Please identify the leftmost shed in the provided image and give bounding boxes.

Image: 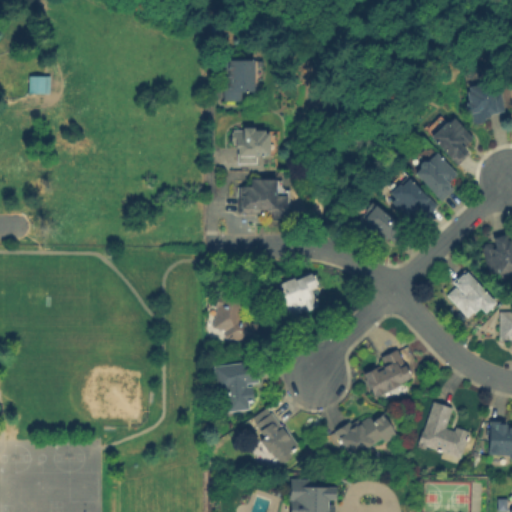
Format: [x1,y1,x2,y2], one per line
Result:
[30,73,50,95]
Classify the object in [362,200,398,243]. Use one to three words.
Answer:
house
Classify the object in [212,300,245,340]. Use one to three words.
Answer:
house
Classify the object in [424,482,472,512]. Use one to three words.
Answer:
sports court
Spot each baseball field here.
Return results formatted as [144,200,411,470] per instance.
[82,366,150,431]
